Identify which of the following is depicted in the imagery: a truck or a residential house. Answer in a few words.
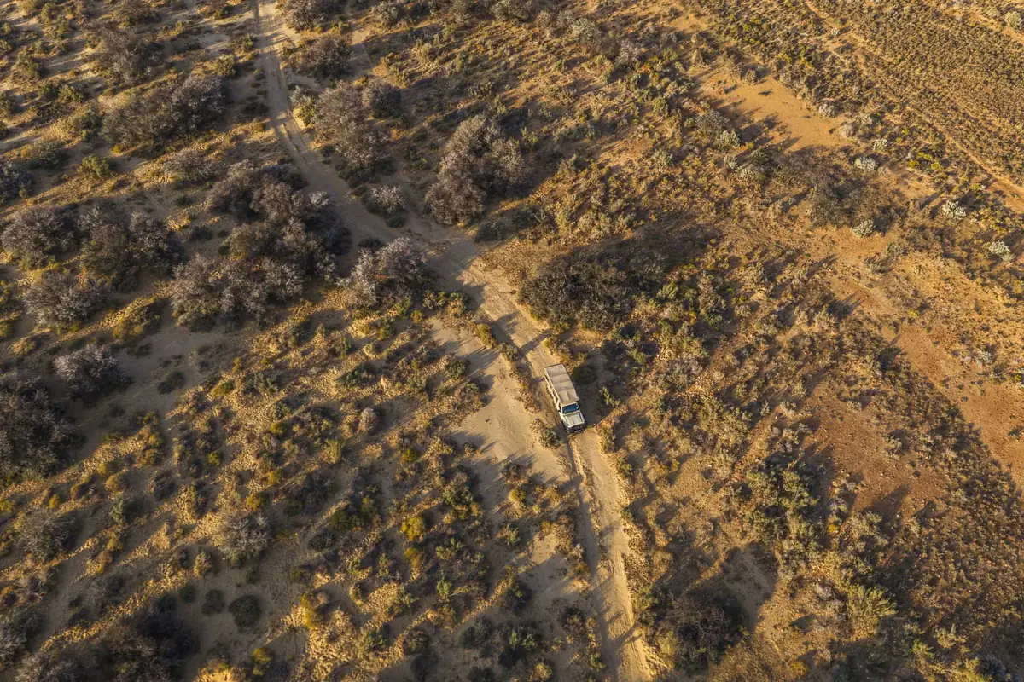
truck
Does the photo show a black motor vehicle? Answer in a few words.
No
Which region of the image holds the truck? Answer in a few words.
center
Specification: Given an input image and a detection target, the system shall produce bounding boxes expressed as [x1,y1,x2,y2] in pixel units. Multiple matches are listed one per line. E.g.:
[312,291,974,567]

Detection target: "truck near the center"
[545,363,586,431]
